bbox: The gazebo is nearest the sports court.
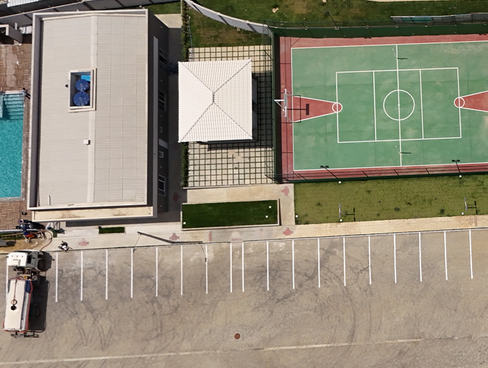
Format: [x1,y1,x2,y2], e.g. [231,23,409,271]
[178,58,258,145]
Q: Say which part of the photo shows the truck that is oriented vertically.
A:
bottom left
